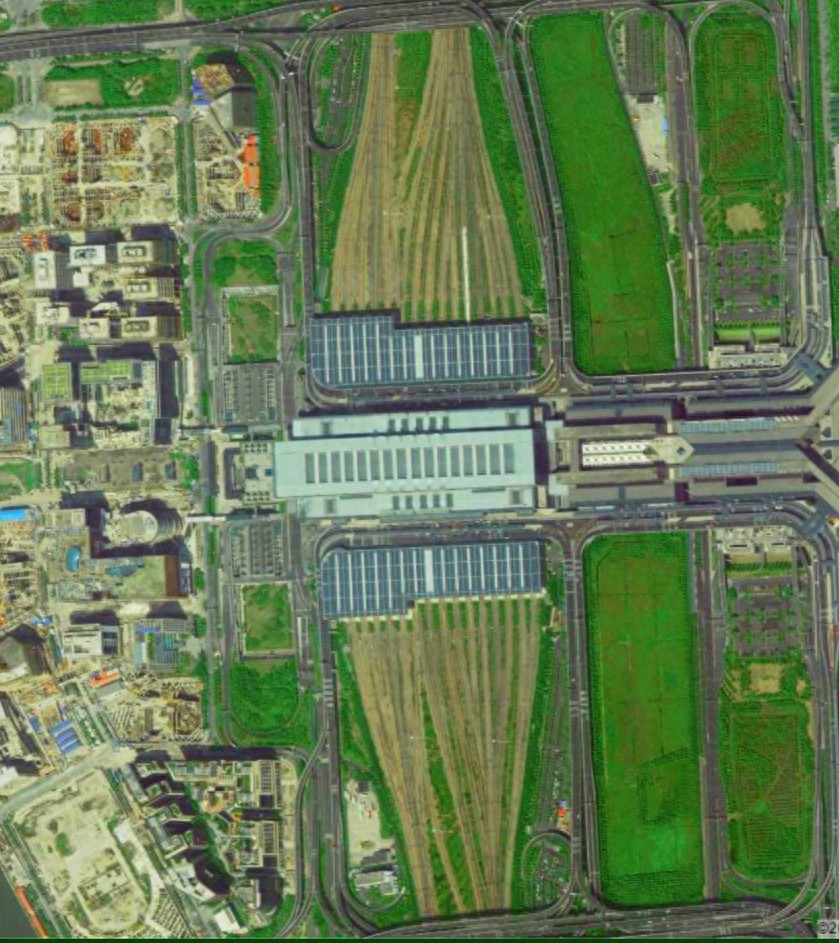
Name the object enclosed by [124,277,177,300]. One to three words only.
building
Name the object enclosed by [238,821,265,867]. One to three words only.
building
